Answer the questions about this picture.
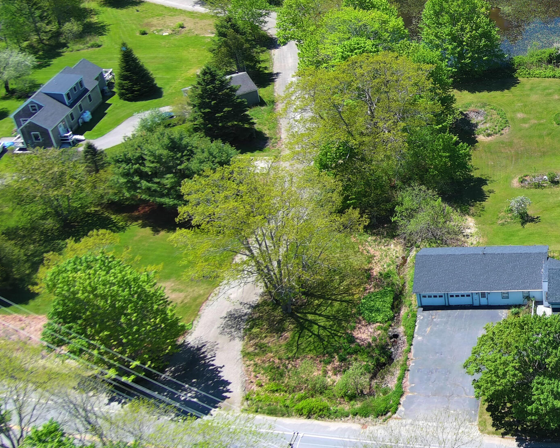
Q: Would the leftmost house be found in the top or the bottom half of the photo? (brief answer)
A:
top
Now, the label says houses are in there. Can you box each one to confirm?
[7,55,119,148]
[413,245,560,332]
